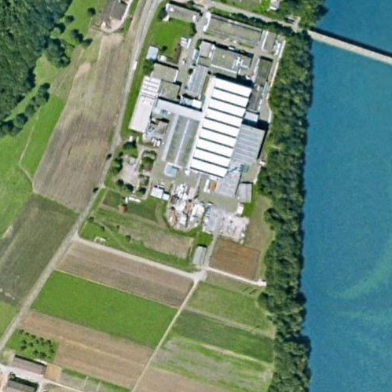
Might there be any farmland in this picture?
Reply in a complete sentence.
Yes, there is farmland in the image.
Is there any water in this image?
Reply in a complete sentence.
Yes, water shows up in the scene.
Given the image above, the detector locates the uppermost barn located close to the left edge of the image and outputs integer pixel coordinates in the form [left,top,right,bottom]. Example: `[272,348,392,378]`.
[12,354,46,376]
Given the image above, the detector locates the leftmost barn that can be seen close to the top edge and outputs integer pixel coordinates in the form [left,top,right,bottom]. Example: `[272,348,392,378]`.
[100,0,127,19]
